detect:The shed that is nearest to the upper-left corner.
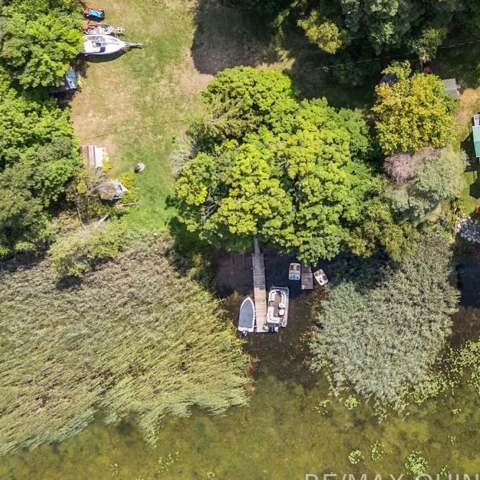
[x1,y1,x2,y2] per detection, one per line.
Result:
[79,146,110,168]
